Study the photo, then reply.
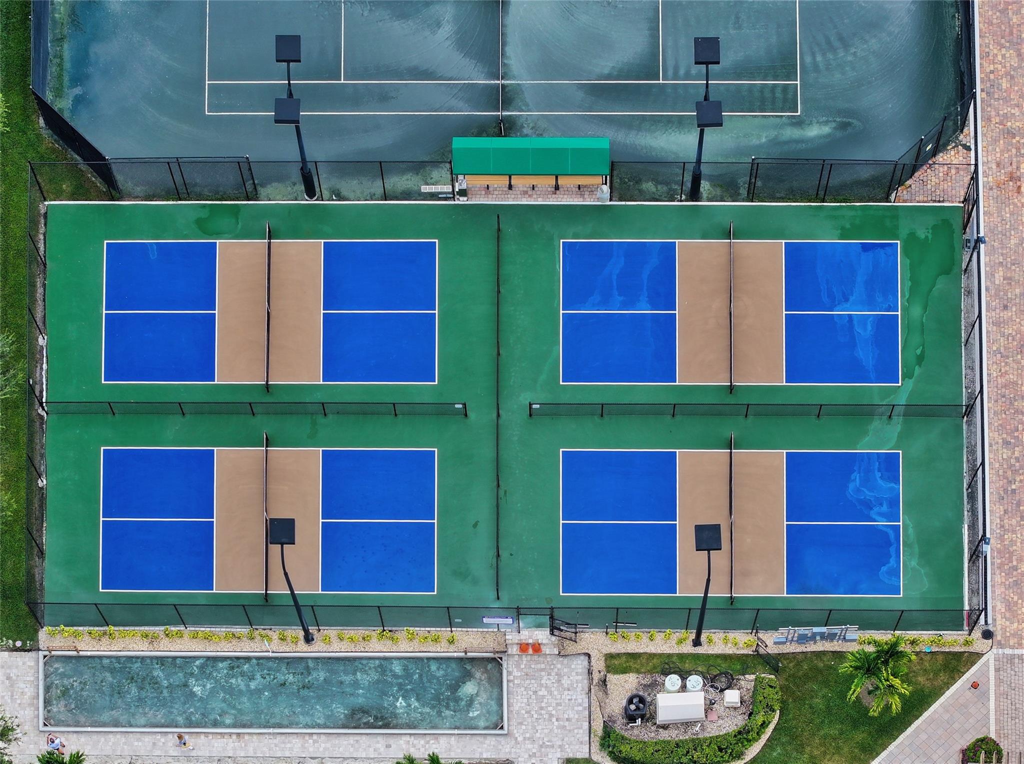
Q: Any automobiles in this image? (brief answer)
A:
No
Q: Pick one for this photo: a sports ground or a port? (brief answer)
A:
sports ground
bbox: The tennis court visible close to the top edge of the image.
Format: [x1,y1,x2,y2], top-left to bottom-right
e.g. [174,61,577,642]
[48,0,962,202]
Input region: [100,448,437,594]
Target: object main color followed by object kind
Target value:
blue sports court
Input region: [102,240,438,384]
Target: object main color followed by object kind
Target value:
blue sports court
